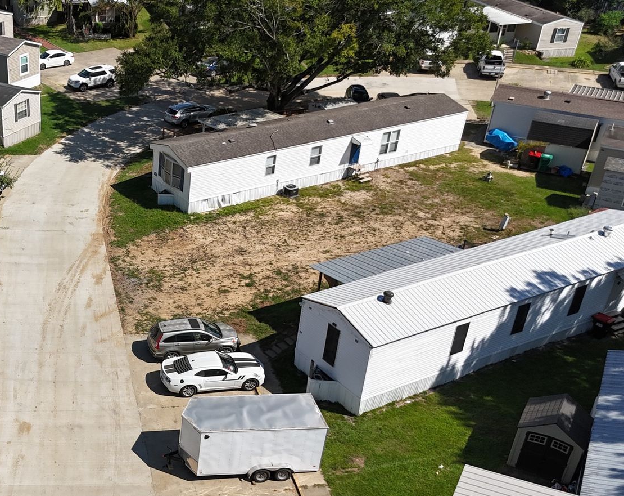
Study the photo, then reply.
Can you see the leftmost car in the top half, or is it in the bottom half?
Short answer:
top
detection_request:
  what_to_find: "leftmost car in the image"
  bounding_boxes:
[41,49,77,70]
